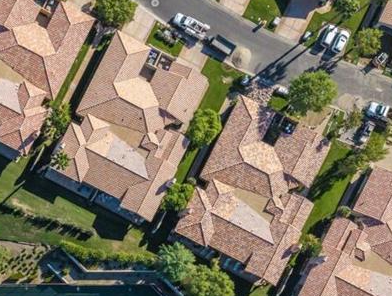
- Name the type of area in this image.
residential area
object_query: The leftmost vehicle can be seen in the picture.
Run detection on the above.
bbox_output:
[176,12,214,36]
